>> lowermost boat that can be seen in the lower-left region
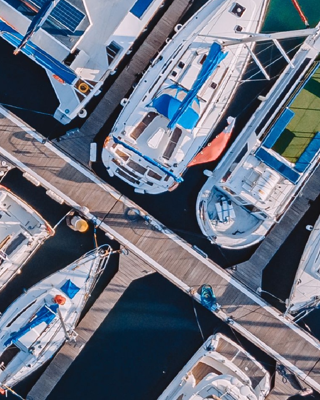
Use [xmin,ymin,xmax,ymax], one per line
[0,246,117,394]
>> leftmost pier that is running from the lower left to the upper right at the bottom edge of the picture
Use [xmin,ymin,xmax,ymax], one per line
[21,245,155,400]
